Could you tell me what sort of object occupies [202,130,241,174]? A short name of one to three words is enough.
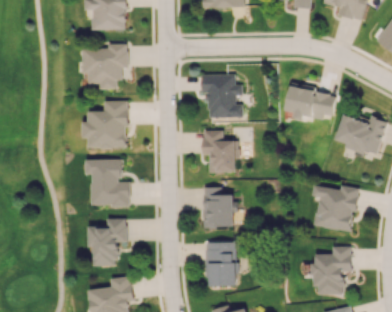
house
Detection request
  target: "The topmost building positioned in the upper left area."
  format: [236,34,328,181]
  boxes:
[84,0,126,30]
